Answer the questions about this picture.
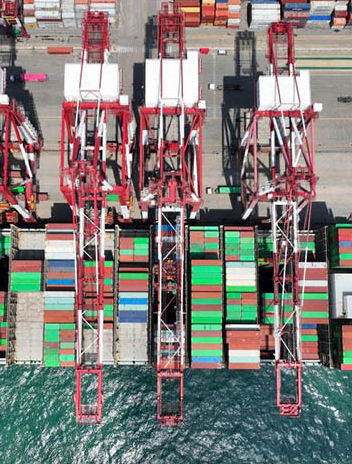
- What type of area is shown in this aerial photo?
port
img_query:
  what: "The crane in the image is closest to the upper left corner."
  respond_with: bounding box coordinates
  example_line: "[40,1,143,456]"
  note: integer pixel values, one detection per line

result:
[2,0,34,33]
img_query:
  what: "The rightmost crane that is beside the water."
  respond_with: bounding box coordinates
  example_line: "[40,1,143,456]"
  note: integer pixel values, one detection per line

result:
[225,19,329,415]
